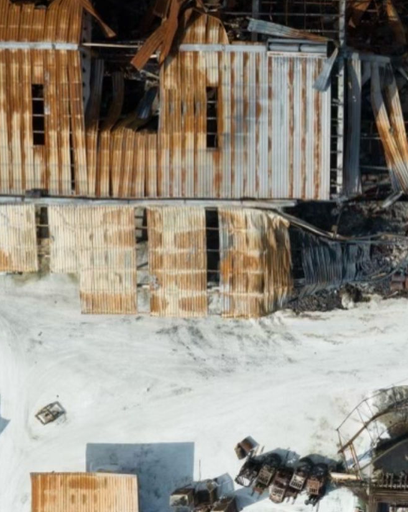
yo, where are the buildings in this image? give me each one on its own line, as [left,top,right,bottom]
[0,0,408,318]
[30,472,138,512]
